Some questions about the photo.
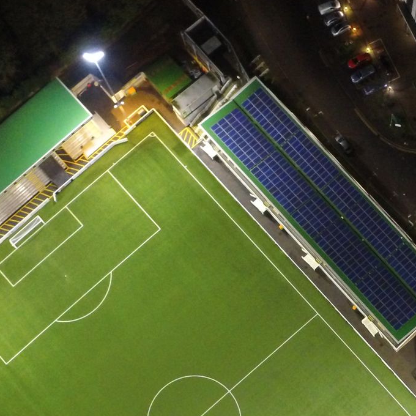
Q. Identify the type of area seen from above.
sports ground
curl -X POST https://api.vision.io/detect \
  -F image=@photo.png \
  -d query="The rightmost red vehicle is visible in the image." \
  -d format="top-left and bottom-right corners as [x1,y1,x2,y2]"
[348,51,373,69]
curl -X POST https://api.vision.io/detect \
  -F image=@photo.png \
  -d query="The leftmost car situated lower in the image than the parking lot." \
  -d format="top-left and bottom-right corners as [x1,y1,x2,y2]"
[335,134,353,155]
